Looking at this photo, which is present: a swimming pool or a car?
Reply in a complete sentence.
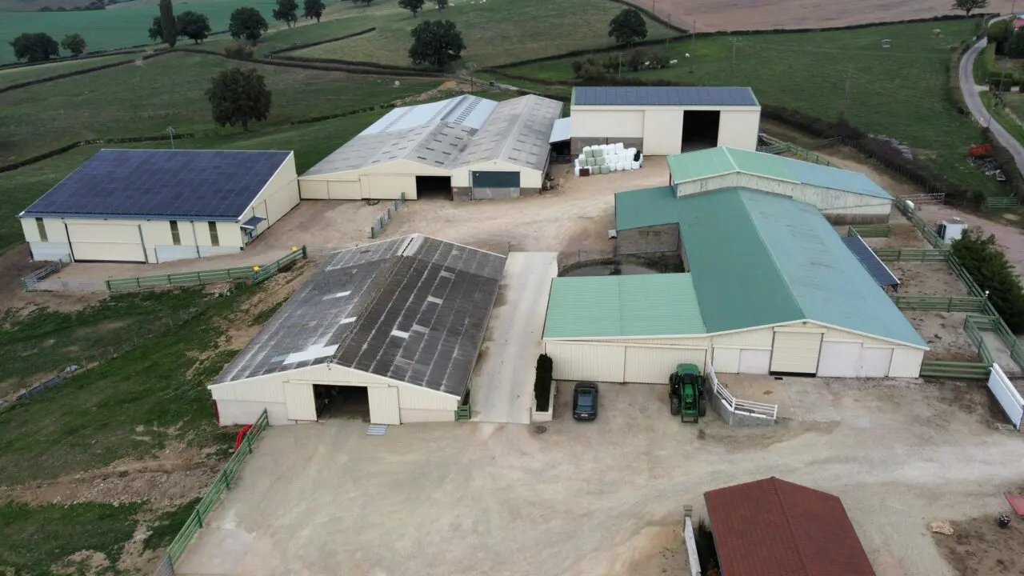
Of the two, only a car appears.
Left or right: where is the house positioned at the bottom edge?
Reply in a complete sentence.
The house positioned at the bottom edge sits on the right side.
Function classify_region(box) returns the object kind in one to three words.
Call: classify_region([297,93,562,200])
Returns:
barn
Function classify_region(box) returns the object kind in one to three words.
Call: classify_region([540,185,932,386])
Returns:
barn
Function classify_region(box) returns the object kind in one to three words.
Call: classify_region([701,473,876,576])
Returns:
house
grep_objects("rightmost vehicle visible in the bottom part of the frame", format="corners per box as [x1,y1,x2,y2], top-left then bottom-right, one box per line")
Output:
[669,357,709,424]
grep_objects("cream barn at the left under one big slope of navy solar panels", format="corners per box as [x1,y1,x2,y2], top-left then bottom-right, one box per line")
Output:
[18,148,299,263]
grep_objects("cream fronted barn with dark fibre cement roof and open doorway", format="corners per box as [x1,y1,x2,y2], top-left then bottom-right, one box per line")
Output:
[207,232,506,427]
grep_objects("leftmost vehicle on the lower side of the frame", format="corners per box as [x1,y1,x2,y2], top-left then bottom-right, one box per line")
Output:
[568,382,597,419]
